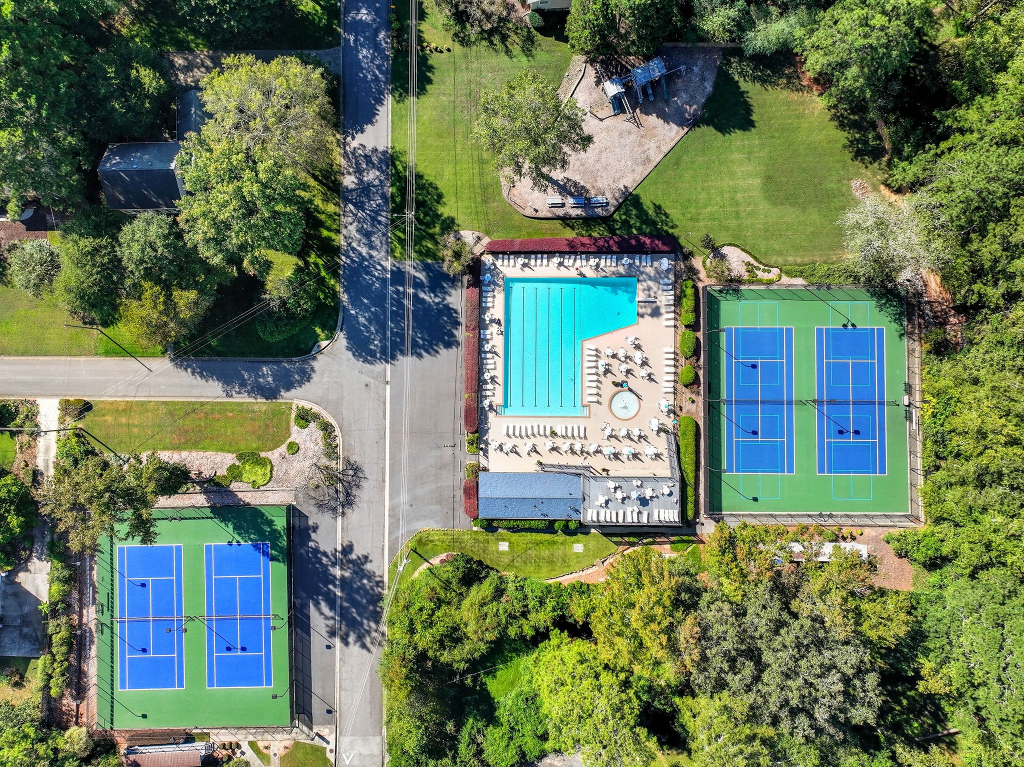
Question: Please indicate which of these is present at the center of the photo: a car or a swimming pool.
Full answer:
There is a swimming pool at the center of the photo.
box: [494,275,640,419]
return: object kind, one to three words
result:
swimming pool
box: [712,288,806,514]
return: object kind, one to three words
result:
tennis court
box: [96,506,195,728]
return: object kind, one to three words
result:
tennis court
